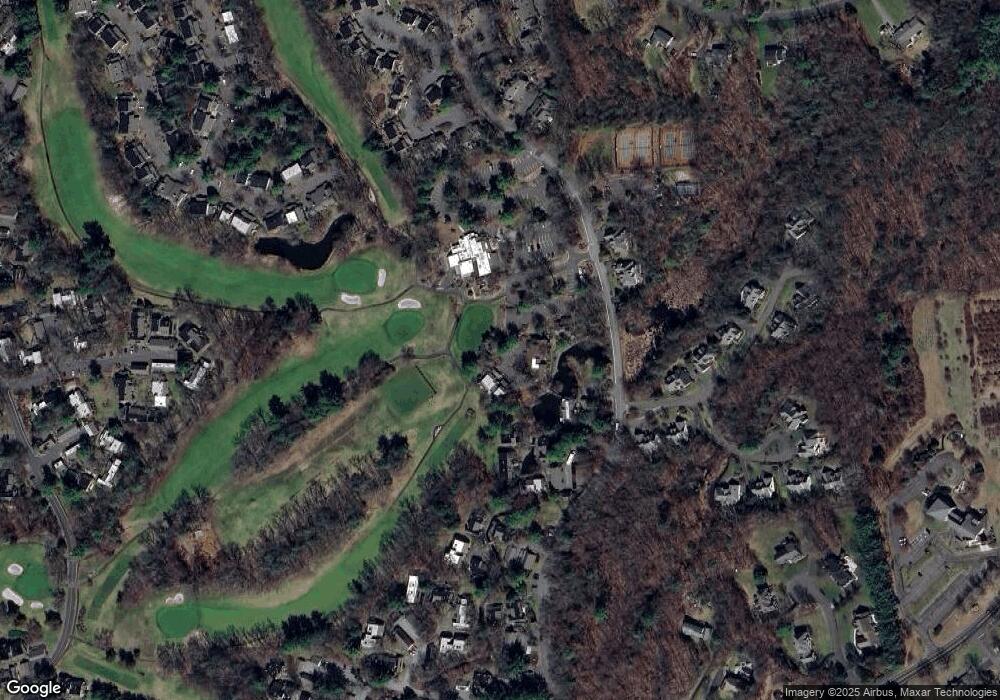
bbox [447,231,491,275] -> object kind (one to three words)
building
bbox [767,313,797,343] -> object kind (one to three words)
house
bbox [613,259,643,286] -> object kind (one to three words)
house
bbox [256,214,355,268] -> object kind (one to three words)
pond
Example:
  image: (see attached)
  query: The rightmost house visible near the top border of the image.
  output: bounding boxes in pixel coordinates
[883,16,928,50]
